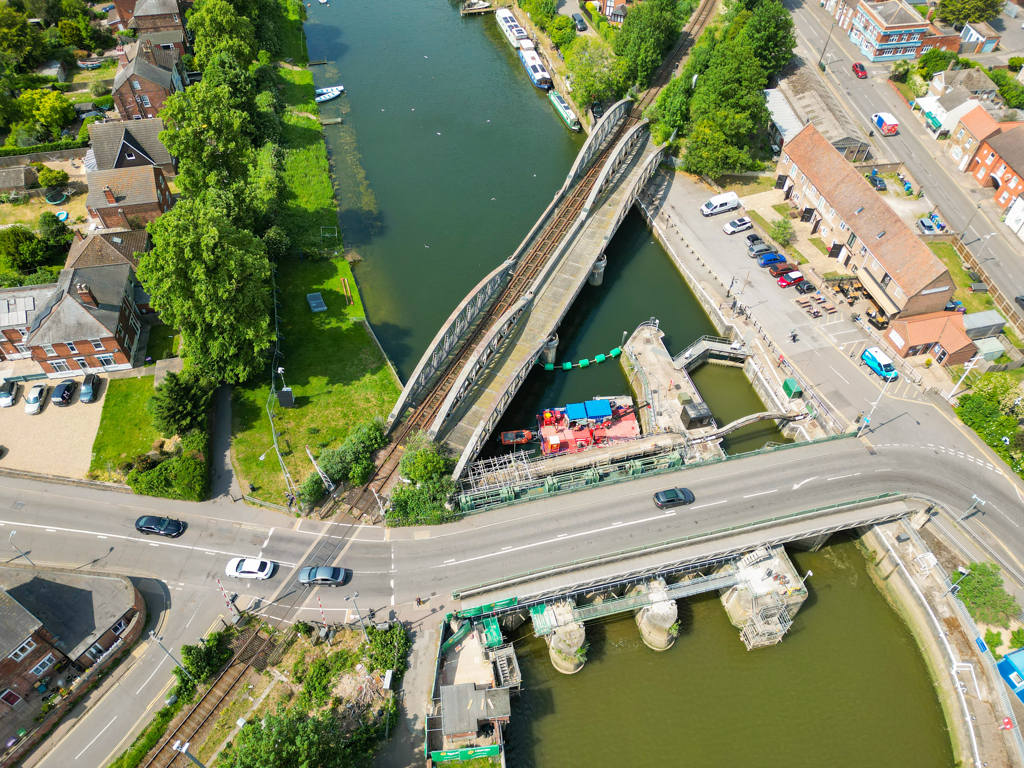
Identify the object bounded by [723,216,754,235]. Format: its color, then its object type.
white car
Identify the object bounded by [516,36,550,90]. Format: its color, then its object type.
white boat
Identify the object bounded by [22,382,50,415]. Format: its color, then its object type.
white car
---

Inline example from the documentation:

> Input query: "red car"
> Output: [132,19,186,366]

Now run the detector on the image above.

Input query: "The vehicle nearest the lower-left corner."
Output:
[133,516,185,540]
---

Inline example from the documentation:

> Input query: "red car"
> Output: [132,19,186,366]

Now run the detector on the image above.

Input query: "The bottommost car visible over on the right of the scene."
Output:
[653,485,694,509]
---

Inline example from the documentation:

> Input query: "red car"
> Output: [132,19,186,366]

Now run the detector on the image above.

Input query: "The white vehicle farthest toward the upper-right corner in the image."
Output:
[869,110,903,135]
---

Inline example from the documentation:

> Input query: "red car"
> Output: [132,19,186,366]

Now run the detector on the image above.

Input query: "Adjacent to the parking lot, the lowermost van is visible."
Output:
[860,344,899,381]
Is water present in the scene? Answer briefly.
Yes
